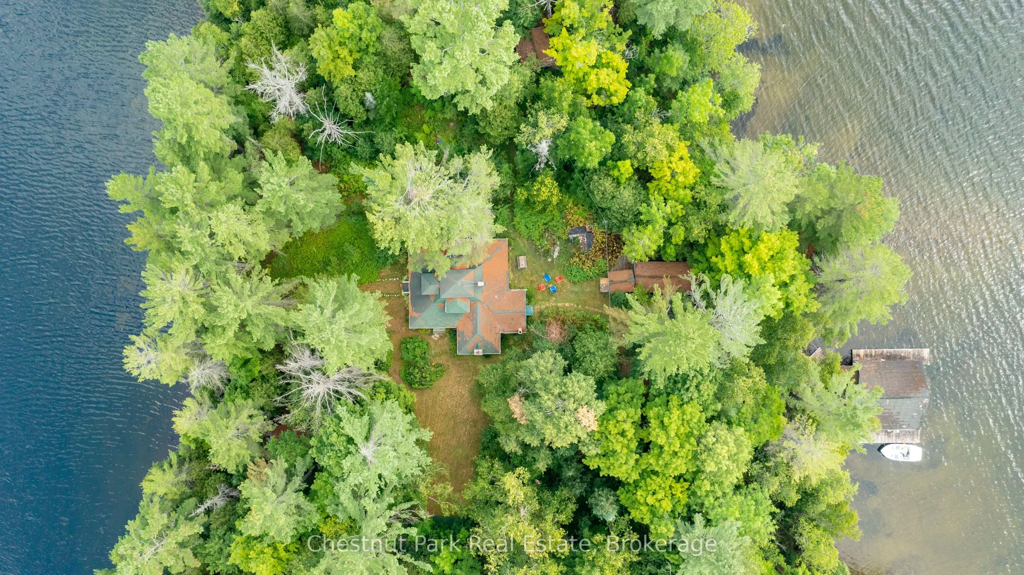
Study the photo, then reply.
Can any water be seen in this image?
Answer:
Yes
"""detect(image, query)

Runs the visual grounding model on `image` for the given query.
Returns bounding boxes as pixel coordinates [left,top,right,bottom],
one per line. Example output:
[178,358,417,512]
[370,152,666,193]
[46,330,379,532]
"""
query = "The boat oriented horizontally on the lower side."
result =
[882,445,926,463]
